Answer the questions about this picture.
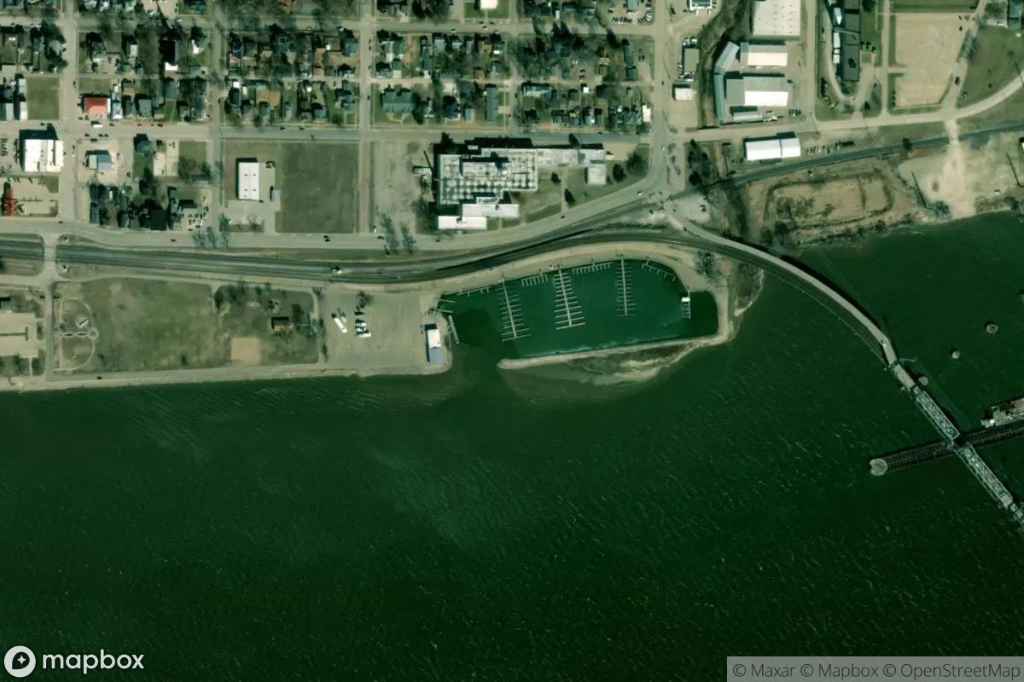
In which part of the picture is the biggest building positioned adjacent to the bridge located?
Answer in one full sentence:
Look in the top portion of the view to spot the biggest building positioned adjacent to the bridge.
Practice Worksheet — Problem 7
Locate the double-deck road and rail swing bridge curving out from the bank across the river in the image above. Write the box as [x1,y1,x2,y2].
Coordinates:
[670,211,1024,530]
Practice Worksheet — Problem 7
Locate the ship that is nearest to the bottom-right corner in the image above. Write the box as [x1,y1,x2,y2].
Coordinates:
[981,398,1024,427]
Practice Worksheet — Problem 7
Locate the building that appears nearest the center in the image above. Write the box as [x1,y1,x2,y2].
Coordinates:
[427,329,444,367]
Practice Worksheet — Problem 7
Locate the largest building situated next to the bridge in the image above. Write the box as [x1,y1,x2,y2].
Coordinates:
[438,145,606,204]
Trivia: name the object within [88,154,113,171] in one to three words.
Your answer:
building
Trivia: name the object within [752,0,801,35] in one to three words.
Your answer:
building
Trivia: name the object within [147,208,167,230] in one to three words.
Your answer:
house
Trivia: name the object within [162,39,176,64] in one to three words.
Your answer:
house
